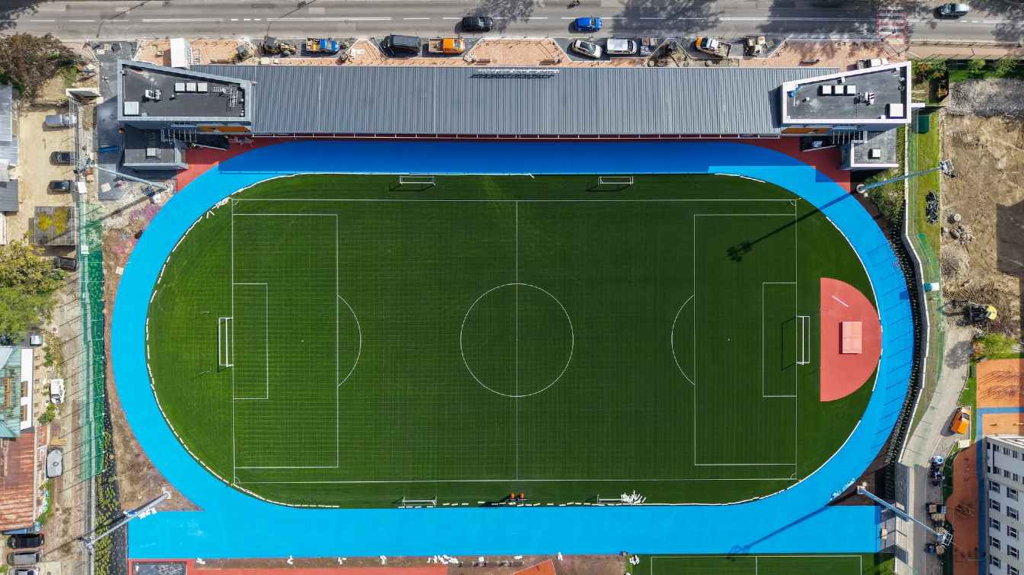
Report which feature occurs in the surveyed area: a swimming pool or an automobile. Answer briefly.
automobile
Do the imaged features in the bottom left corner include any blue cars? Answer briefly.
No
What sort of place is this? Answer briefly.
sports ground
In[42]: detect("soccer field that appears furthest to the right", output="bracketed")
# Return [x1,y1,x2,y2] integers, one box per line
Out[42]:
[629,553,896,575]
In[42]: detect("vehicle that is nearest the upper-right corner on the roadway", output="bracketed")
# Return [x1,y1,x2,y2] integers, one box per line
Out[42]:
[936,2,969,17]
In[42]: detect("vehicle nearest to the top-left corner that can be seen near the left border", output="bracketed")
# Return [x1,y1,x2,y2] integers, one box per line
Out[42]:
[44,113,78,128]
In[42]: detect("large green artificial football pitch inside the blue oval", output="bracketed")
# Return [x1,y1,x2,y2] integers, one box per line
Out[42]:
[144,173,882,507]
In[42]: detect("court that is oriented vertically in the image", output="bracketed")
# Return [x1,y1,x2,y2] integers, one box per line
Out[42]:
[945,358,1024,575]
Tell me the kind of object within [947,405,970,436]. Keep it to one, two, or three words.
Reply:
vehicle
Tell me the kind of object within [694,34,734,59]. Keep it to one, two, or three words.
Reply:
truck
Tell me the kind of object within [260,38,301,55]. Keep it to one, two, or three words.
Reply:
work vehicle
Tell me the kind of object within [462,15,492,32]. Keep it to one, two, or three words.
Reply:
car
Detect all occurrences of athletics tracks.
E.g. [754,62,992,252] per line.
[112,136,914,575]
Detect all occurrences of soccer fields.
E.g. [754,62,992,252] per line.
[629,553,896,575]
[144,173,882,507]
